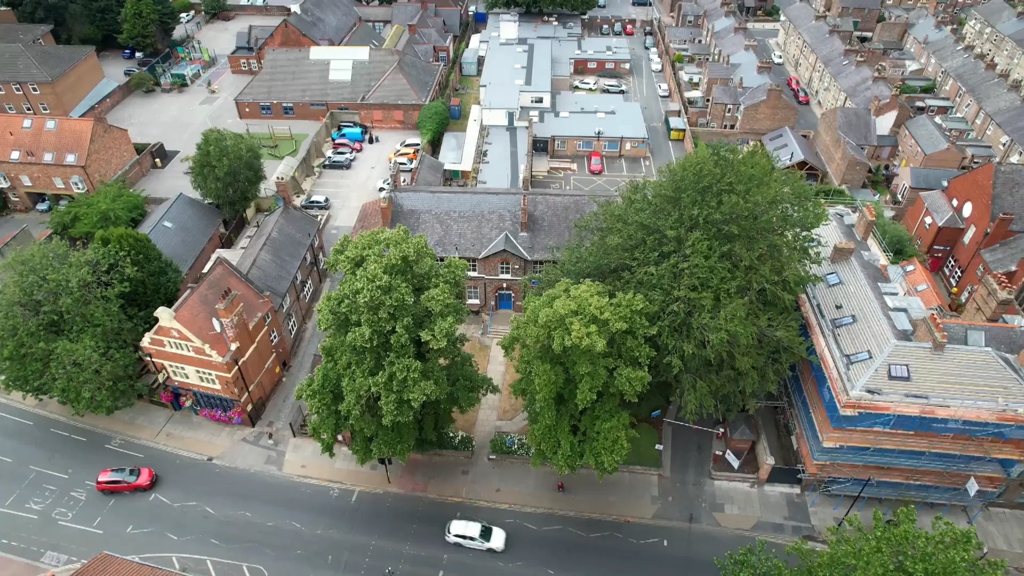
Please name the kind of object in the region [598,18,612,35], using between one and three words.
car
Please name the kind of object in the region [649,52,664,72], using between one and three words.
car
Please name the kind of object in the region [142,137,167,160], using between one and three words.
building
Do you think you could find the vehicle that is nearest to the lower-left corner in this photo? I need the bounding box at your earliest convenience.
[88,460,159,493]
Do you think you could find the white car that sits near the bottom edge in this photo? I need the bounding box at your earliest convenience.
[442,513,510,549]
